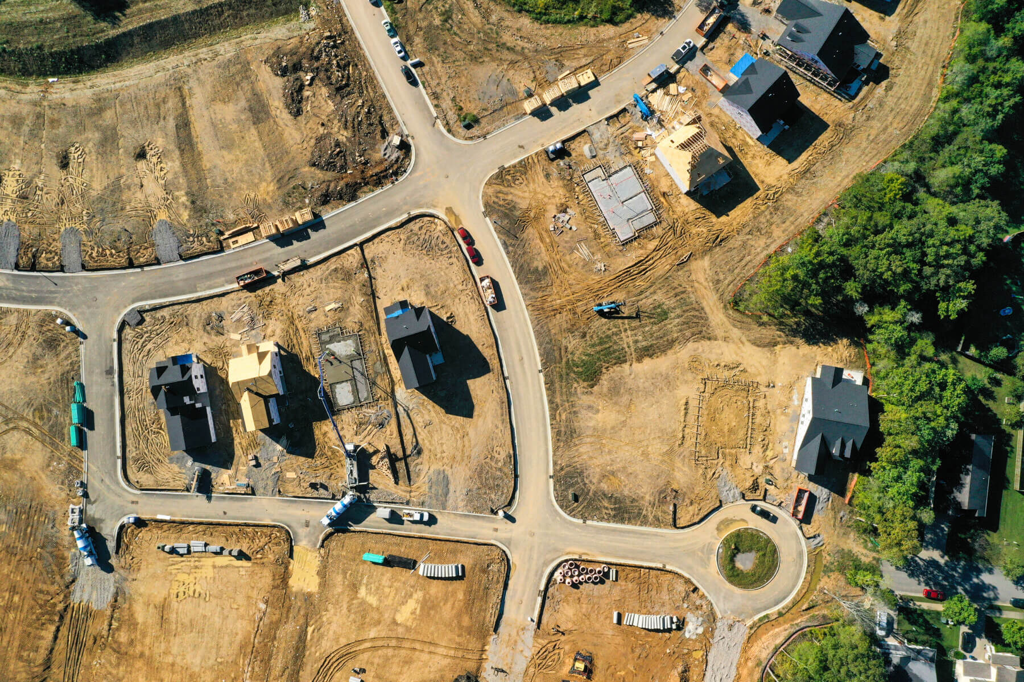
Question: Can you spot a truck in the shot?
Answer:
Yes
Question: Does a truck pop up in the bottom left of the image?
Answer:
Yes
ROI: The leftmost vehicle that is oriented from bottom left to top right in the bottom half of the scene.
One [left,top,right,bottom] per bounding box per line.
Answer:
[316,488,358,532]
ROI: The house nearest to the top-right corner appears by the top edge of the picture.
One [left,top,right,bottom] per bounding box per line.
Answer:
[772,0,883,95]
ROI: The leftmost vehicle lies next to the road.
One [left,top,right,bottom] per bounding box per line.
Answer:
[65,514,97,566]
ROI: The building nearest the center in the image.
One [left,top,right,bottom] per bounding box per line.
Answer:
[384,298,446,390]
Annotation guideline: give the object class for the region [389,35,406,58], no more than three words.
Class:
car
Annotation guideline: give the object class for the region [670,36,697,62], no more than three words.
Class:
truck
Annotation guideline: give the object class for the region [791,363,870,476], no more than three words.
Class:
house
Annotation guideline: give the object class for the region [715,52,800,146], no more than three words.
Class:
house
